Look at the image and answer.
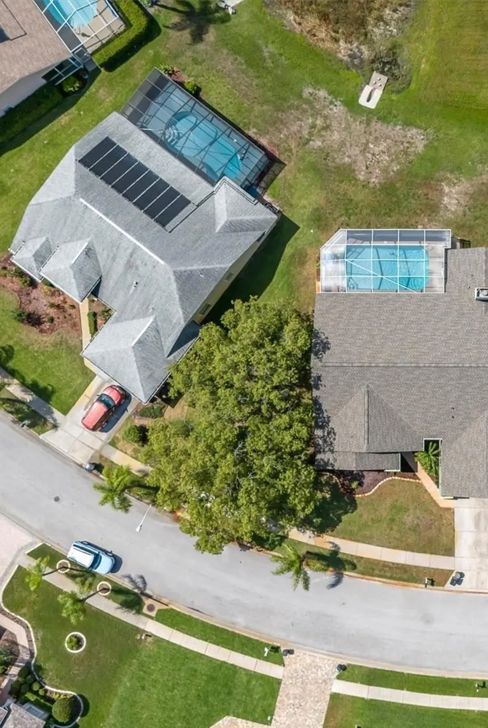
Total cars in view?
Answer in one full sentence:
In total, there are 2 cars in the scene.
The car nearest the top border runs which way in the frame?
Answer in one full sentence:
The car nearest the top border has been laid out at an angle relative to the frame.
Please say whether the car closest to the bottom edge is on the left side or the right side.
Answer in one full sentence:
It is on the left.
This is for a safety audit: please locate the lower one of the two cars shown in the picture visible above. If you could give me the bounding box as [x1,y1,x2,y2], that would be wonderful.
[65,539,117,575]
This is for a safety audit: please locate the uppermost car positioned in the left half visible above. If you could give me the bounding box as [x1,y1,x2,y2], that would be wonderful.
[83,384,126,433]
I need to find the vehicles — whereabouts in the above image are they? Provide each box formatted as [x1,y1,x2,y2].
[83,384,126,433]
[65,539,117,575]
